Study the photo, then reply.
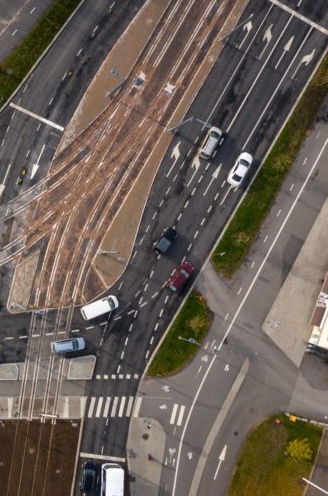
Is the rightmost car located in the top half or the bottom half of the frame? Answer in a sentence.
The rightmost car is in the top half of the image.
